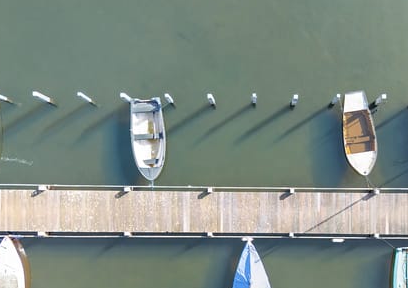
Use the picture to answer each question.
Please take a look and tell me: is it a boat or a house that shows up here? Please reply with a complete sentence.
Looking from above, you can make out a boat.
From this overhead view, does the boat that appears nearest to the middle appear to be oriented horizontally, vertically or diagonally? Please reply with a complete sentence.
The boat that appears nearest to the middle runs vertically in the image.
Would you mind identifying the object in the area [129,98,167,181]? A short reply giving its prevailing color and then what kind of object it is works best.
white boat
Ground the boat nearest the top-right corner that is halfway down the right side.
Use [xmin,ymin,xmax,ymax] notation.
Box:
[343,91,379,177]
